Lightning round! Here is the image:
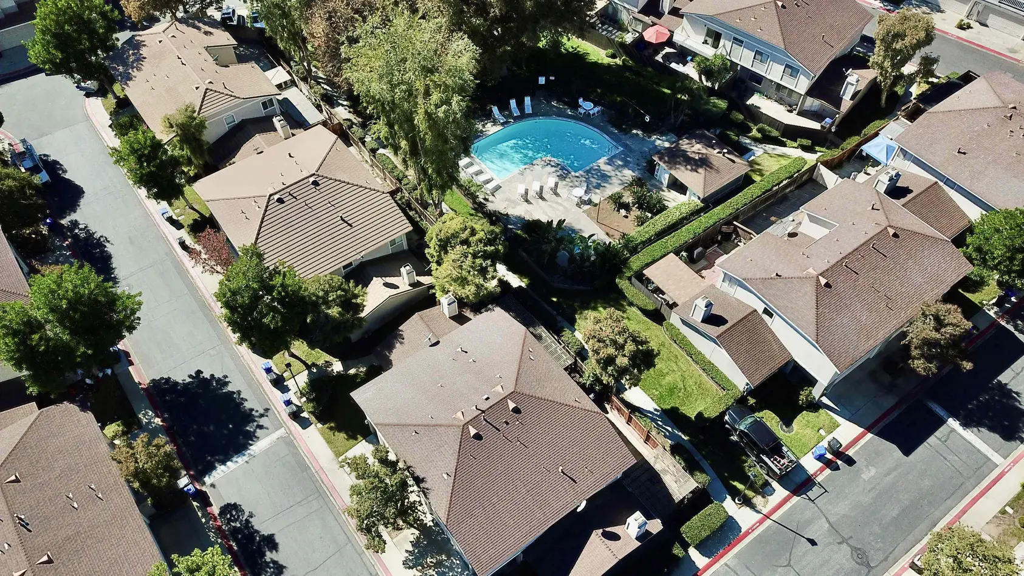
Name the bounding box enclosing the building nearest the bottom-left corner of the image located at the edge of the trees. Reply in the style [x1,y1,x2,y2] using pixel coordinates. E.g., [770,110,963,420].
[0,390,171,576]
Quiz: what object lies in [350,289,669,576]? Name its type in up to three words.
house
